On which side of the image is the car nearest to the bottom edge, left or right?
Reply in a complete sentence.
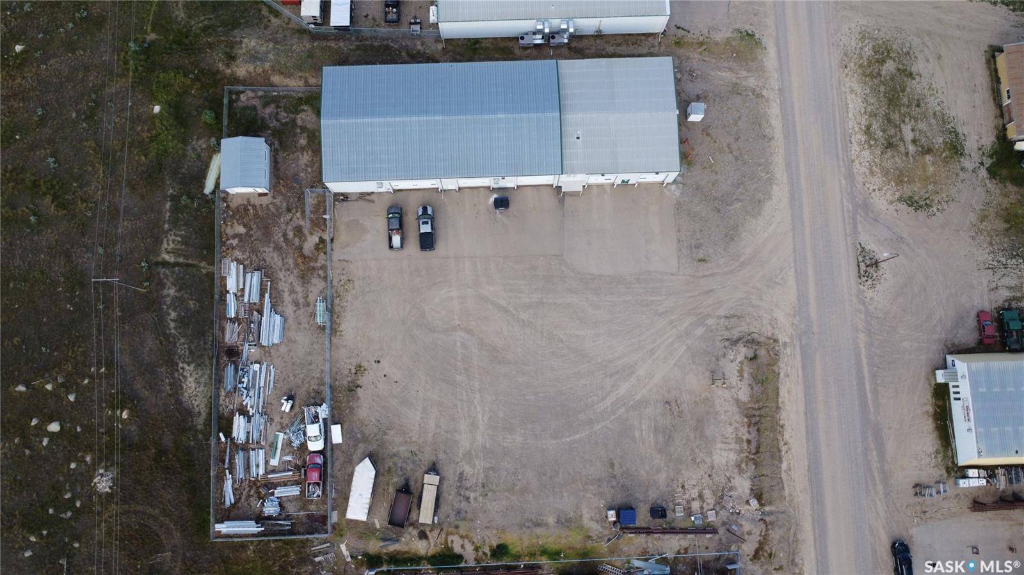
It is on the right.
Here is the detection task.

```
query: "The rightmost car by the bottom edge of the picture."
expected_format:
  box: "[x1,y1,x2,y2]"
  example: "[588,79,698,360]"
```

[891,541,918,575]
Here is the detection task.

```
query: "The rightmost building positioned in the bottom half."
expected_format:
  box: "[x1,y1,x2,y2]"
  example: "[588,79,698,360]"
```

[935,352,1024,466]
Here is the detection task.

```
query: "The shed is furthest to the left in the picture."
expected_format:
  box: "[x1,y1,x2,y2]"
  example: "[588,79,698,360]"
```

[220,136,270,198]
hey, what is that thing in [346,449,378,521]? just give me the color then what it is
white trailer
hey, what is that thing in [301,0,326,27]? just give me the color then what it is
white vehicle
